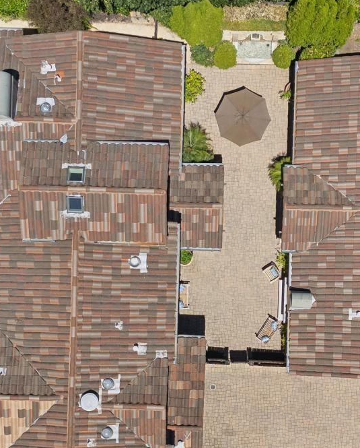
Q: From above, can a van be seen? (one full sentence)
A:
No, the picture doesn't show any van.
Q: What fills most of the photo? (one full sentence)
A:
Most of the picture is covered by buildings.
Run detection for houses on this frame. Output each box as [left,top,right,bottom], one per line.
[277,52,360,381]
[0,26,227,448]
